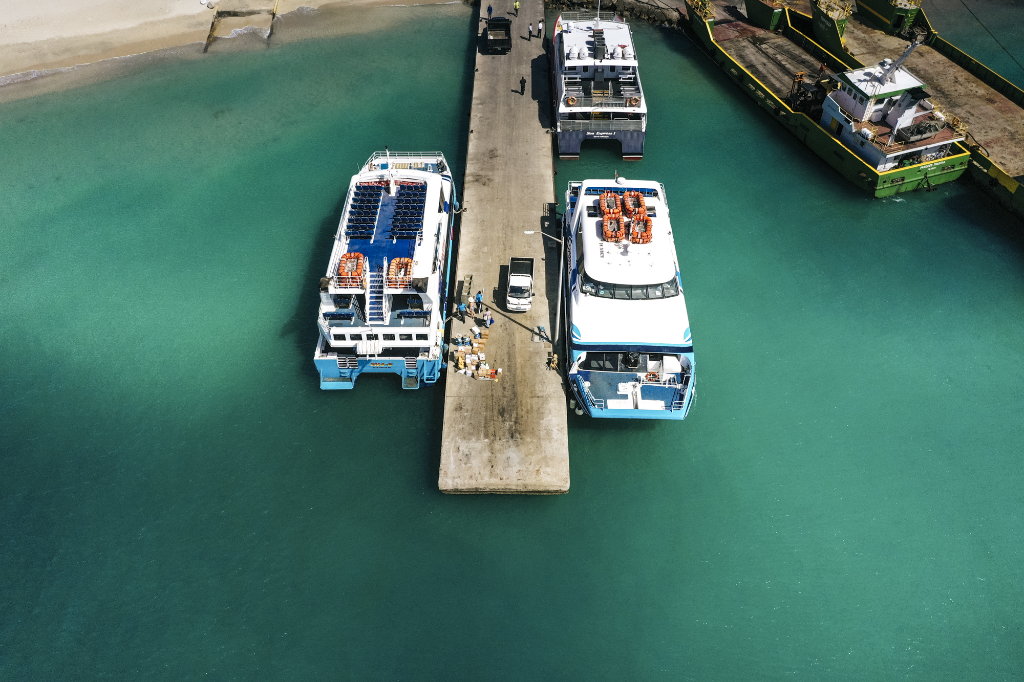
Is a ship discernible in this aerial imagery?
Yes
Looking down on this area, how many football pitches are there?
0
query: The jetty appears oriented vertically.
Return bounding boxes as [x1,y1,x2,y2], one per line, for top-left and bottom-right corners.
[439,0,569,497]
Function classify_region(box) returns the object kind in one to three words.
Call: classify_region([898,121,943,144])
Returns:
boat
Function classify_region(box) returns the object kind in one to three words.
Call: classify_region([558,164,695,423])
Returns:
ship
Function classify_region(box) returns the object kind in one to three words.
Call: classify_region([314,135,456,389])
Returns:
ship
